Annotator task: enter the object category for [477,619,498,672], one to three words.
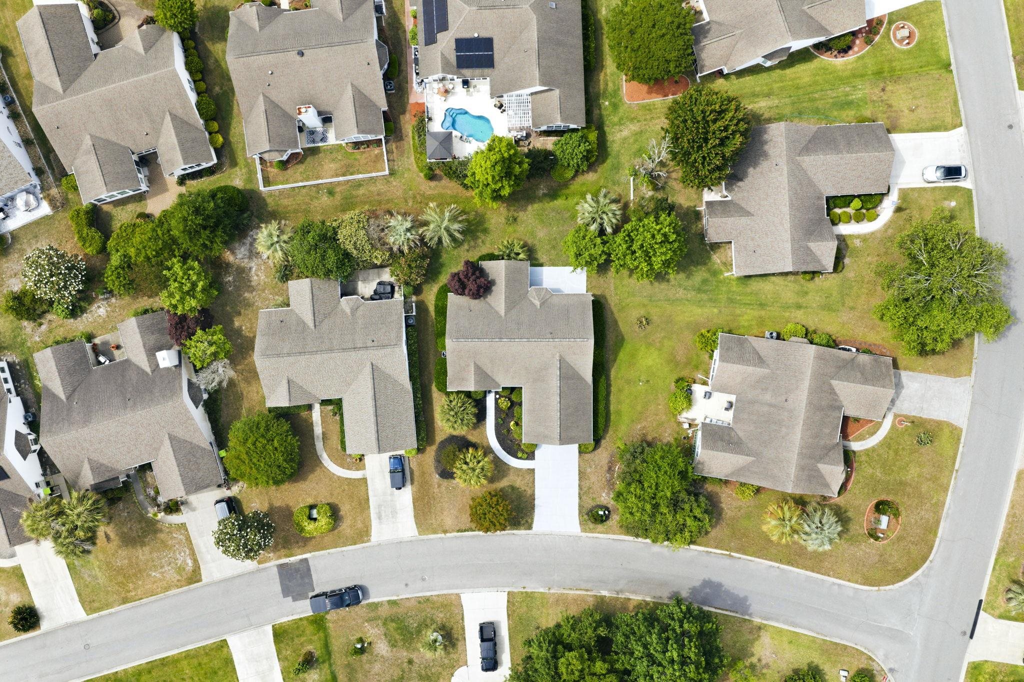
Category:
truck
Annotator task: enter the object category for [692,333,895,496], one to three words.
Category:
house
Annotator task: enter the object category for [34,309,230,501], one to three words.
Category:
house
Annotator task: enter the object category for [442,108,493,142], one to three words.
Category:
swimming pool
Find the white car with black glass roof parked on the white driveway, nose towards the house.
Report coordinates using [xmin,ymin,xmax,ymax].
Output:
[920,161,969,182]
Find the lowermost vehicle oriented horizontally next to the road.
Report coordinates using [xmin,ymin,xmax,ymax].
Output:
[307,585,365,613]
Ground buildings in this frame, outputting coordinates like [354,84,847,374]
[254,276,418,454]
[692,333,895,496]
[226,0,389,163]
[0,356,63,550]
[18,4,218,205]
[34,309,230,501]
[701,121,895,278]
[692,0,871,78]
[0,103,34,195]
[446,260,594,445]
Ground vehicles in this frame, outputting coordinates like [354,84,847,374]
[386,452,408,494]
[920,161,969,182]
[307,585,365,613]
[477,619,498,672]
[215,495,238,531]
